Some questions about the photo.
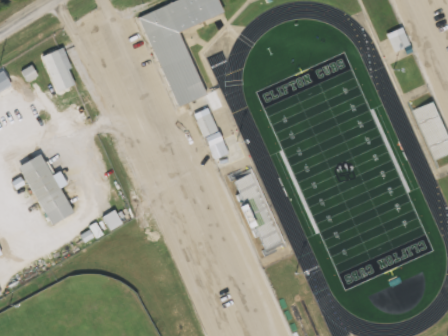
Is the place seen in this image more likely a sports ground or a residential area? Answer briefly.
sports ground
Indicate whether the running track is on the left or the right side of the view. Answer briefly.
right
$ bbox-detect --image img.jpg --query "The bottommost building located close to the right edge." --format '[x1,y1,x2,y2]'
[412,102,448,160]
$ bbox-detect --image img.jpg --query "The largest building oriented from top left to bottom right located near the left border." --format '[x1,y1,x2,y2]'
[20,156,74,225]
